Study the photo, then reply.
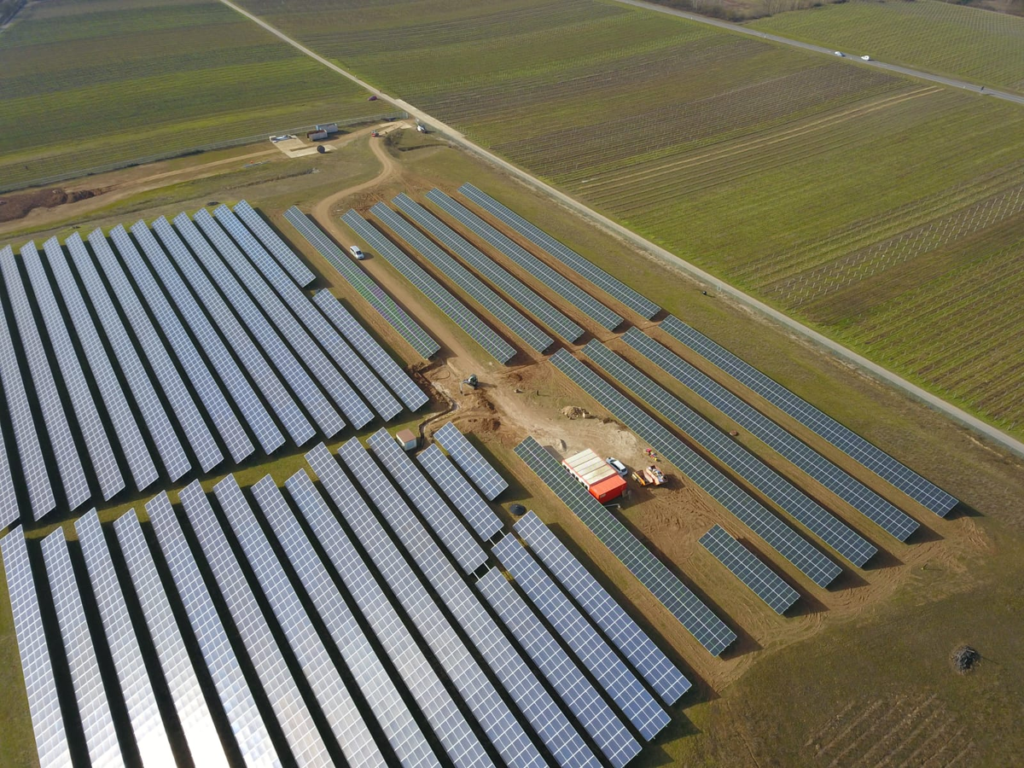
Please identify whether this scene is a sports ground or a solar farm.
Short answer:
solar farm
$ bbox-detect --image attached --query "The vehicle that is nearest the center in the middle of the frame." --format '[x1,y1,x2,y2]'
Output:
[462,376,480,398]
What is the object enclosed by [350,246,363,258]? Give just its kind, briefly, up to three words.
vehicle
